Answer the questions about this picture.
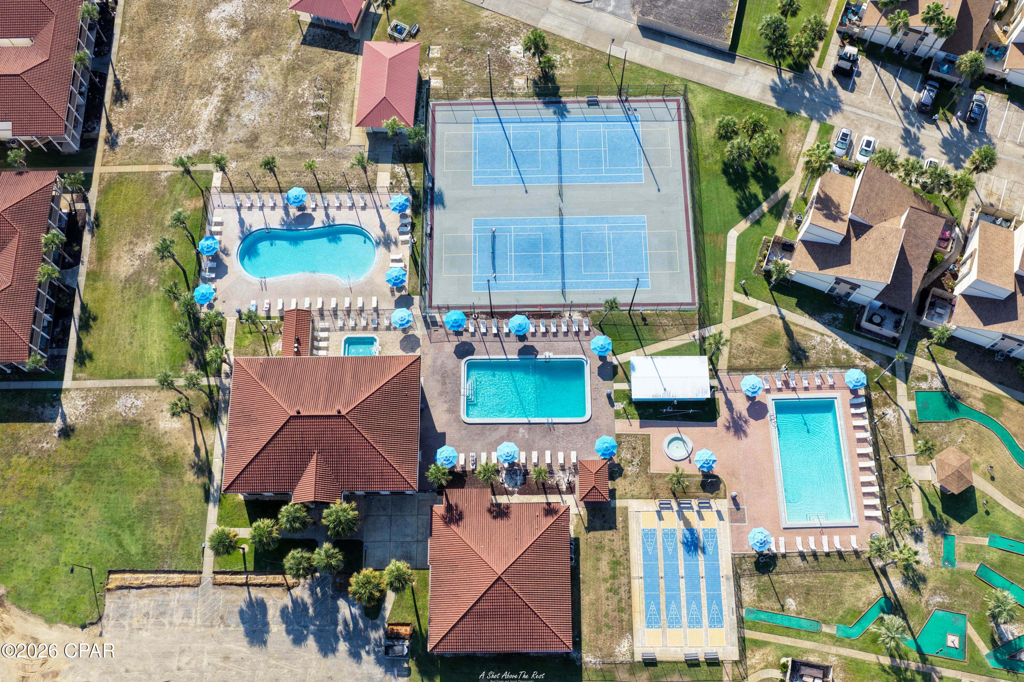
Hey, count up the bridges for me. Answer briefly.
0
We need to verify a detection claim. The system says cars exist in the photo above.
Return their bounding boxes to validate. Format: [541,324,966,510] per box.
[833,126,853,159]
[917,81,939,113]
[965,94,987,125]
[918,158,941,190]
[854,134,876,166]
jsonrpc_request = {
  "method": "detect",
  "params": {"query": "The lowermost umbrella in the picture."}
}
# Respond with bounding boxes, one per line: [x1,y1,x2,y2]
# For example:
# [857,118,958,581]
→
[749,528,771,550]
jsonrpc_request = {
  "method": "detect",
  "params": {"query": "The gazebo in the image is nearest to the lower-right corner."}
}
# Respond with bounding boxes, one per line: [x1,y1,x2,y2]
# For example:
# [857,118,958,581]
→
[930,446,974,497]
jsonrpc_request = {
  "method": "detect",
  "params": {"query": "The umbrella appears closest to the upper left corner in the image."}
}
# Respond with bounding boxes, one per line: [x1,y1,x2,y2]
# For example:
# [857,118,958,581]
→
[199,237,220,255]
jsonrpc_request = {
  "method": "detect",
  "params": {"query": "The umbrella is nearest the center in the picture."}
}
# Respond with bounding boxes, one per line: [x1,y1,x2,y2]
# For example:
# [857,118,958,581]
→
[508,315,528,334]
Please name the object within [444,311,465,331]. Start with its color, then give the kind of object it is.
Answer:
blue umbrella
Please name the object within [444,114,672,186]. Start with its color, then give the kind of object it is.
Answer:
blue tennis court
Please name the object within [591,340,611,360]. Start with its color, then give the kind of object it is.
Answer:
blue umbrella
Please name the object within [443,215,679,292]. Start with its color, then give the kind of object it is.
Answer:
blue tennis court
